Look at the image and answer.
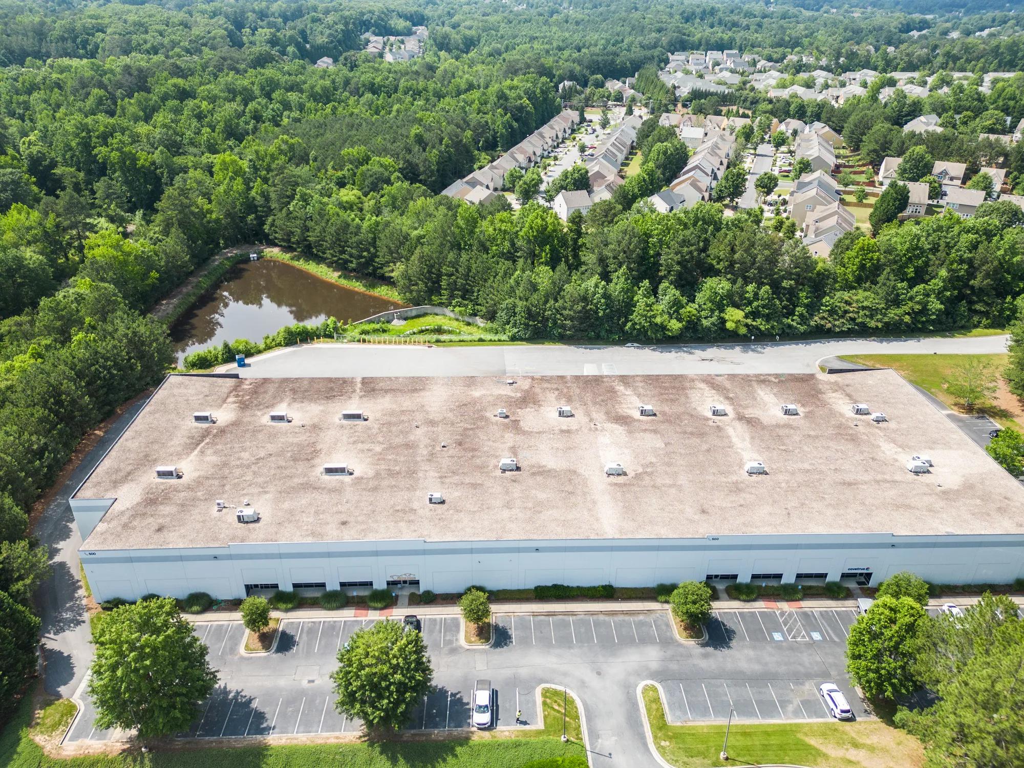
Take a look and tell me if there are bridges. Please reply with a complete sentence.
No, I can see no bridge in this picture.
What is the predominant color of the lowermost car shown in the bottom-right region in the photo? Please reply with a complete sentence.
From above, the lowermost car shown in the bottom-right region appears white.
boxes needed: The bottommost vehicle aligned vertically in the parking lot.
[474,678,493,724]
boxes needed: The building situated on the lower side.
[67,368,1024,603]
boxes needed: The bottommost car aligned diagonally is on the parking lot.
[821,679,855,715]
